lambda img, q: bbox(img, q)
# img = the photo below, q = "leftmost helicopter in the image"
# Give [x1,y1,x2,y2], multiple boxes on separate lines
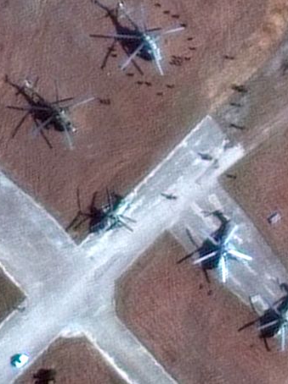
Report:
[19,74,94,143]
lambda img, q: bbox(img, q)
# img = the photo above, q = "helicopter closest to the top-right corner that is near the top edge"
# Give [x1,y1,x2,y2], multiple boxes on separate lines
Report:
[107,1,182,70]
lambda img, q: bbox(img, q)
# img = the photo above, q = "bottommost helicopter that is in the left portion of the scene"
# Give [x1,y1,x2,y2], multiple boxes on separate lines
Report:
[77,184,147,256]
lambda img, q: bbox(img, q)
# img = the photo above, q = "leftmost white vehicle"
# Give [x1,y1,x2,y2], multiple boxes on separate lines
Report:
[10,353,30,370]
